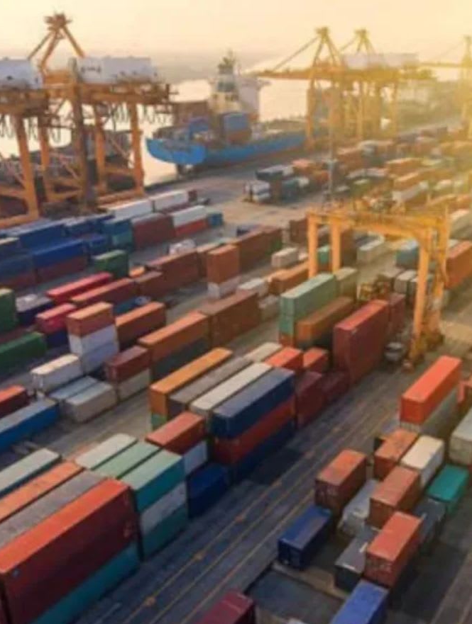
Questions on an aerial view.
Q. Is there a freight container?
Yes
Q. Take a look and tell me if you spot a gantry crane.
Yes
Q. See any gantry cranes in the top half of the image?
Yes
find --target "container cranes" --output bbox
[14,8,186,216]
[281,32,440,143]
[429,40,472,122]
[306,198,452,366]
[0,54,68,228]
[240,30,407,153]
